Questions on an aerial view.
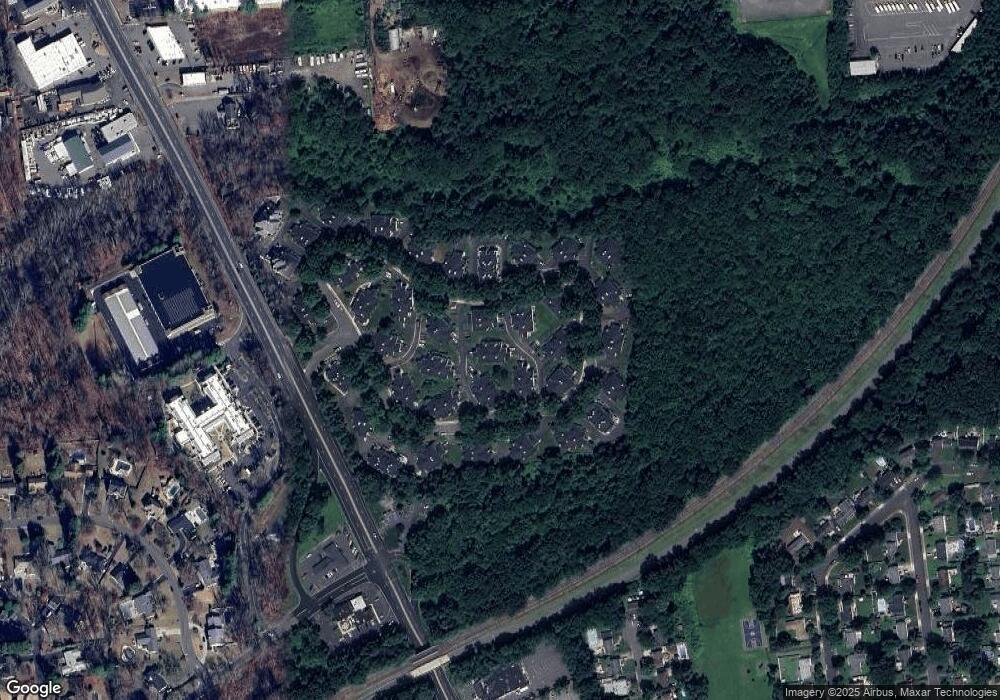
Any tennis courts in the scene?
No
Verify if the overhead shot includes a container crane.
No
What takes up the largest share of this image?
trees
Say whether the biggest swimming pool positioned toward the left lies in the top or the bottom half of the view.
bottom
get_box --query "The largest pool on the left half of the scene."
[109,455,135,476]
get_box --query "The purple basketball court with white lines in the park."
[740,615,764,651]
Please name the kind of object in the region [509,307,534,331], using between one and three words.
building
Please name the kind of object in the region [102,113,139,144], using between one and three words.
building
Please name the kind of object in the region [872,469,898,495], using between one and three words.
house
